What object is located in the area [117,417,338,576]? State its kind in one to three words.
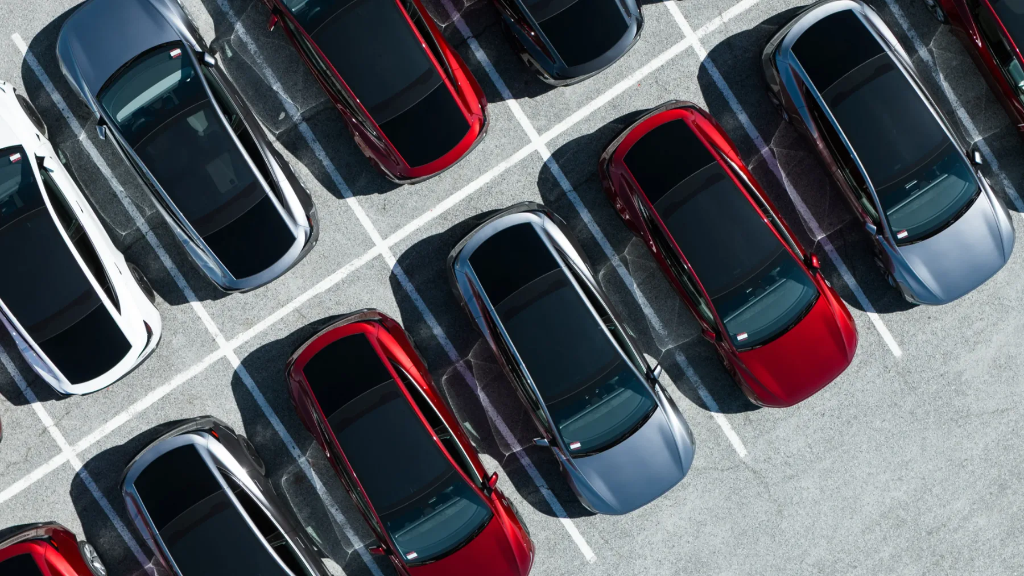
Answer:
car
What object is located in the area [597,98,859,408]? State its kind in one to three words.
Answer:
car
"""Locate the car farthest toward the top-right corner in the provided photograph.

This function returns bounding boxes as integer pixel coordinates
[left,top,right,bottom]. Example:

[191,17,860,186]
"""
[925,0,1024,154]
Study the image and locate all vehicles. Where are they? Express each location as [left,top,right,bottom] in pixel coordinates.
[0,84,162,400]
[117,417,338,576]
[761,0,1017,306]
[486,0,648,89]
[0,522,110,576]
[445,200,695,516]
[597,98,859,408]
[281,308,533,576]
[925,0,1024,154]
[54,0,322,296]
[259,0,492,188]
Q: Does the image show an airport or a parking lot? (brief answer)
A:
parking lot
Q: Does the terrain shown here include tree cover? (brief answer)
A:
No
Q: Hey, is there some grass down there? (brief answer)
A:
No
